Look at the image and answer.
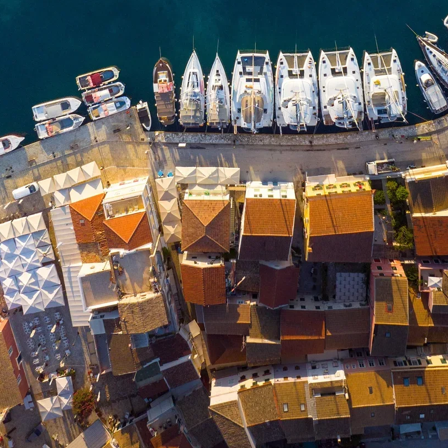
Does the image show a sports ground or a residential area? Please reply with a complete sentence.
The picture captures a residential area.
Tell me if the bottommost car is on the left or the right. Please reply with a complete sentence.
The bottommost car sits on the left side.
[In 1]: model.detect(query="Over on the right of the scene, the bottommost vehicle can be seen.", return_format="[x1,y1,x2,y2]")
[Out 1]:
[367,160,400,177]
